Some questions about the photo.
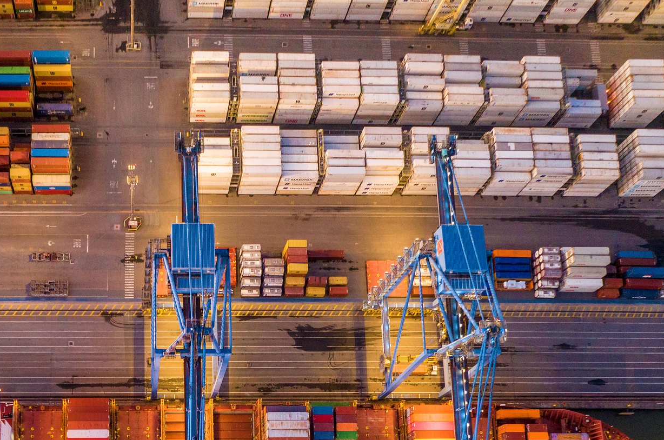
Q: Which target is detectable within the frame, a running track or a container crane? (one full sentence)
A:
There is a container crane in the scene.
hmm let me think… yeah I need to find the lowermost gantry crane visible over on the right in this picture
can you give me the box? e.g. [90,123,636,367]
[356,133,504,440]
